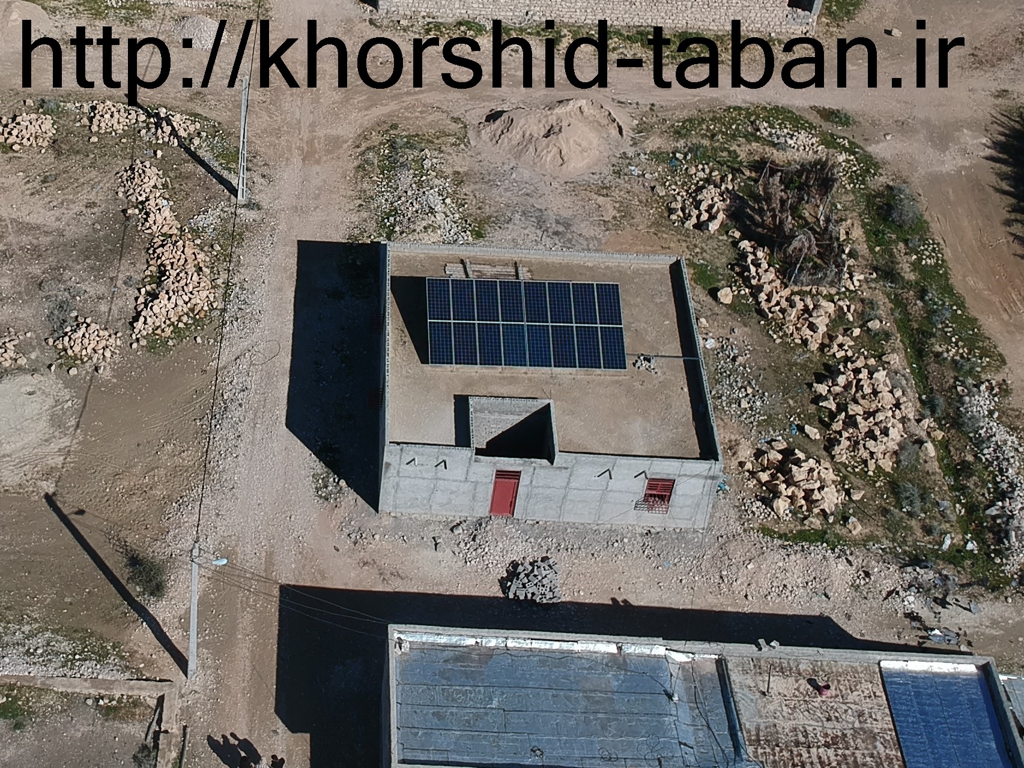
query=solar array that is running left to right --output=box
[427,276,627,372]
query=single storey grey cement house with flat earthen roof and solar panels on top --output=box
[374,241,724,531]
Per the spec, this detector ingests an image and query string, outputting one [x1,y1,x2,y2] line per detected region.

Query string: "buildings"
[374,241,724,531]
[377,0,823,34]
[381,624,1018,768]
